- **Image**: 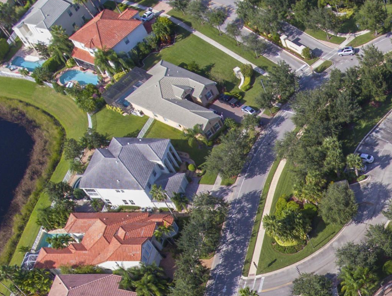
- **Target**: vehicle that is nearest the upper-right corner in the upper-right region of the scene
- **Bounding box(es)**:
[336,45,355,57]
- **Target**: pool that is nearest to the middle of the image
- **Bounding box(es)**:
[115,80,142,108]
